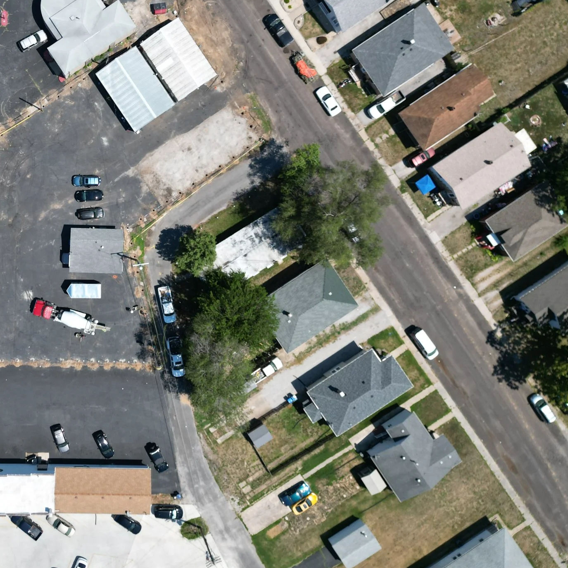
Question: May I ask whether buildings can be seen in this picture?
Yes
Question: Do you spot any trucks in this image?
Yes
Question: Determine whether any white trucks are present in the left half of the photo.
Yes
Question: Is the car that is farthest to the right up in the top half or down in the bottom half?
bottom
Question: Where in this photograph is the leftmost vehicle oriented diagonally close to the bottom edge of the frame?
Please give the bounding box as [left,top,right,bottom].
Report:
[8,516,43,543]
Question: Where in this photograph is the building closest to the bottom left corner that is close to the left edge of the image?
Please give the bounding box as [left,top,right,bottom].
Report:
[0,460,152,518]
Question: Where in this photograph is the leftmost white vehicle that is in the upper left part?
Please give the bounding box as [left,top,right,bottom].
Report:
[16,31,49,52]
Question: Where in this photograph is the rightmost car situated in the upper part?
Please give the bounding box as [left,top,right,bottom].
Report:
[409,147,437,167]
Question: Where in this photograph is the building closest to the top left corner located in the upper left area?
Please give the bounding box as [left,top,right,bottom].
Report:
[42,0,136,74]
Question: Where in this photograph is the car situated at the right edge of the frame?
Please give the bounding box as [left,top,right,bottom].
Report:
[528,390,558,426]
